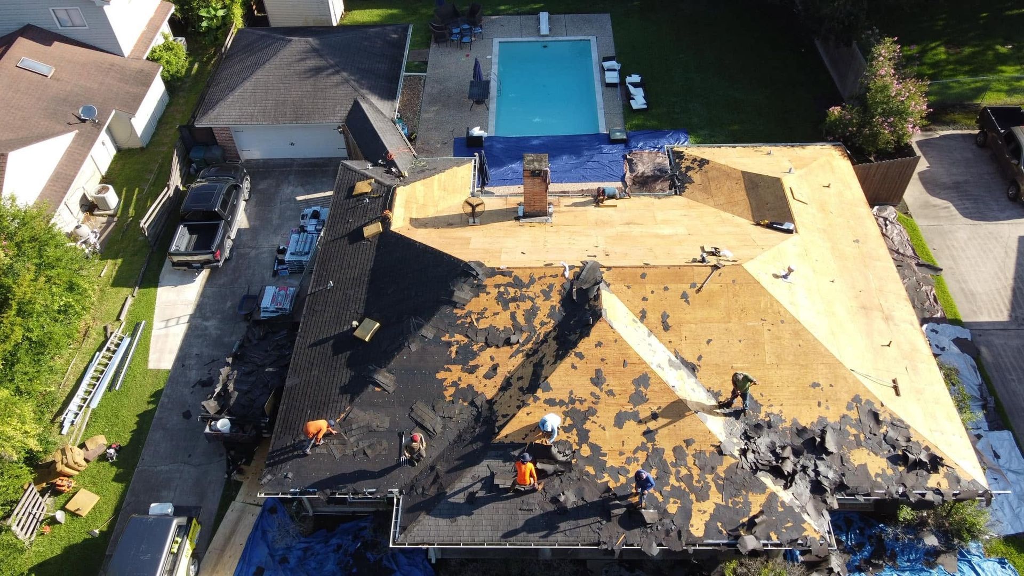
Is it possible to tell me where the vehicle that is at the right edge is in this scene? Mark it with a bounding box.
[976,106,1024,186]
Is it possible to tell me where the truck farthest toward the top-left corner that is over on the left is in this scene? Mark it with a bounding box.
[165,158,249,273]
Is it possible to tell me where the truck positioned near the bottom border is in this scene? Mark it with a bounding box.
[84,510,202,576]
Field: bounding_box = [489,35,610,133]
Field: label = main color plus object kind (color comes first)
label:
blue swimming pool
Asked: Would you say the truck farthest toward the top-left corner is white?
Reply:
No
